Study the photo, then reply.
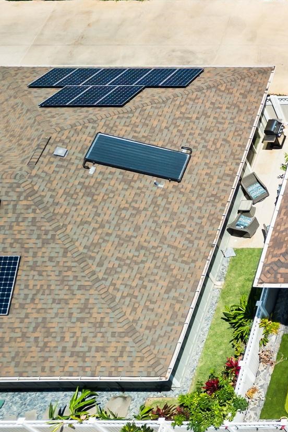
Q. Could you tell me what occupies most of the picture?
buildings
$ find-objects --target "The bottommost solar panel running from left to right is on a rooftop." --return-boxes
[87,128,189,179]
